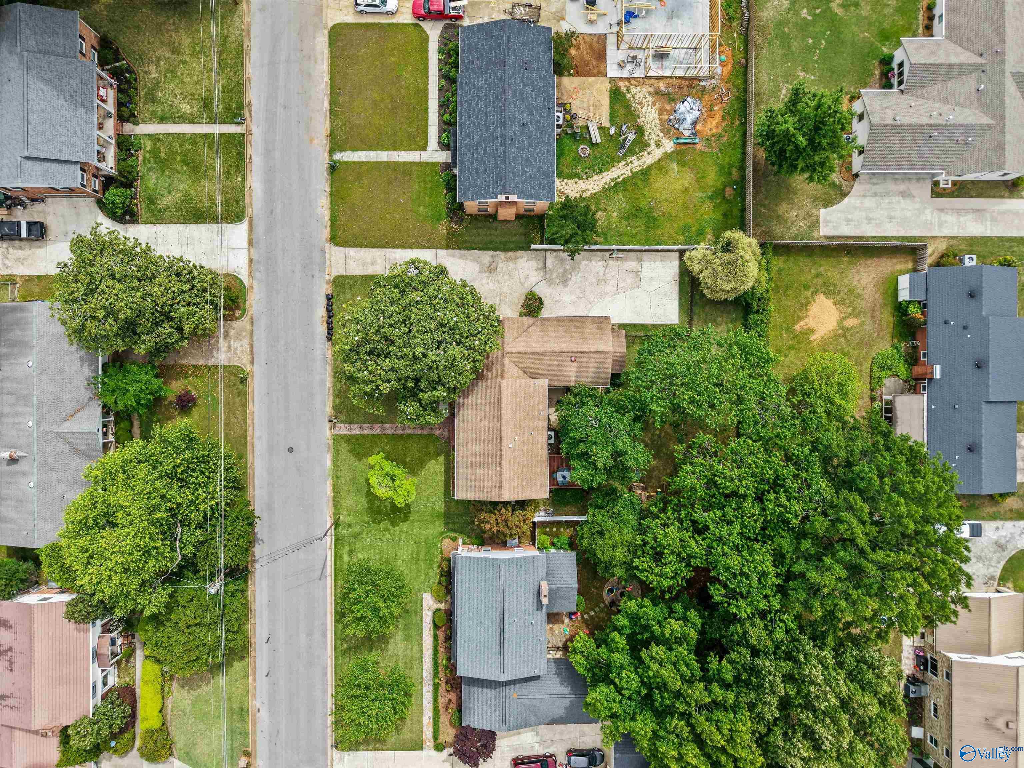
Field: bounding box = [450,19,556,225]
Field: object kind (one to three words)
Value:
house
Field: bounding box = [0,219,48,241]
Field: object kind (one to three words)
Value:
truck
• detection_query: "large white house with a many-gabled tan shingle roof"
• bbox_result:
[852,0,1024,198]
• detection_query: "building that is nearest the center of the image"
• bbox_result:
[451,315,627,505]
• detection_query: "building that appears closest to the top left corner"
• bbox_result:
[0,1,129,197]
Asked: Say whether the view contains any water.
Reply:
No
